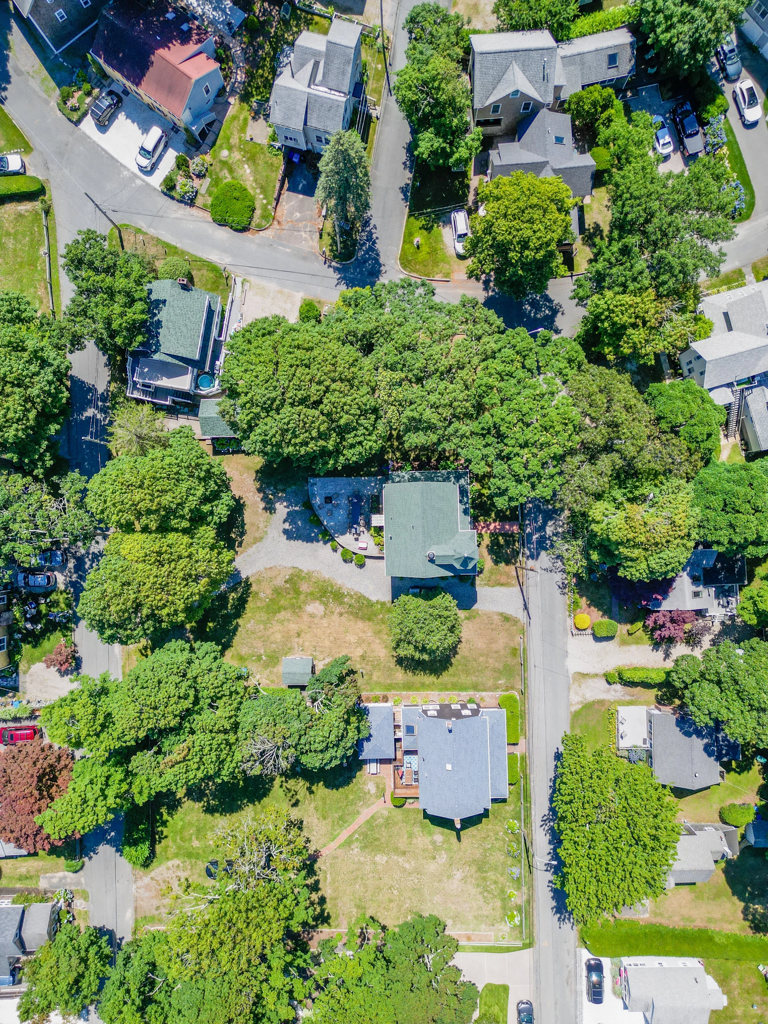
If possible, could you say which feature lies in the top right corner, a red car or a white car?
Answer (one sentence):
Looking in the top right corner, you will find a white car.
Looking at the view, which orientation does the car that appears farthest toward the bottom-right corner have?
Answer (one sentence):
In this picture, the car that appears farthest toward the bottom-right corner lies up and down.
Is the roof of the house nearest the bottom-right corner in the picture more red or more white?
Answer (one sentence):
In this view, the roof of the house nearest the bottom-right corner is white.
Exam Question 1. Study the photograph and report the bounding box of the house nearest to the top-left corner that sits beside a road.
[12,0,96,52]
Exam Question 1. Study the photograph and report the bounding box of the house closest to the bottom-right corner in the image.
[614,953,727,1024]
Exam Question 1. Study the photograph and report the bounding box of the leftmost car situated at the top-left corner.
[0,152,27,177]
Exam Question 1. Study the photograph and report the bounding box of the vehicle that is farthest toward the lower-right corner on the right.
[583,954,607,1005]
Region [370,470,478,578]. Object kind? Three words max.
house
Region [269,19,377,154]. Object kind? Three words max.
house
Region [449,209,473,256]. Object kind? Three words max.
car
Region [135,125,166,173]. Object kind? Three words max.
car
